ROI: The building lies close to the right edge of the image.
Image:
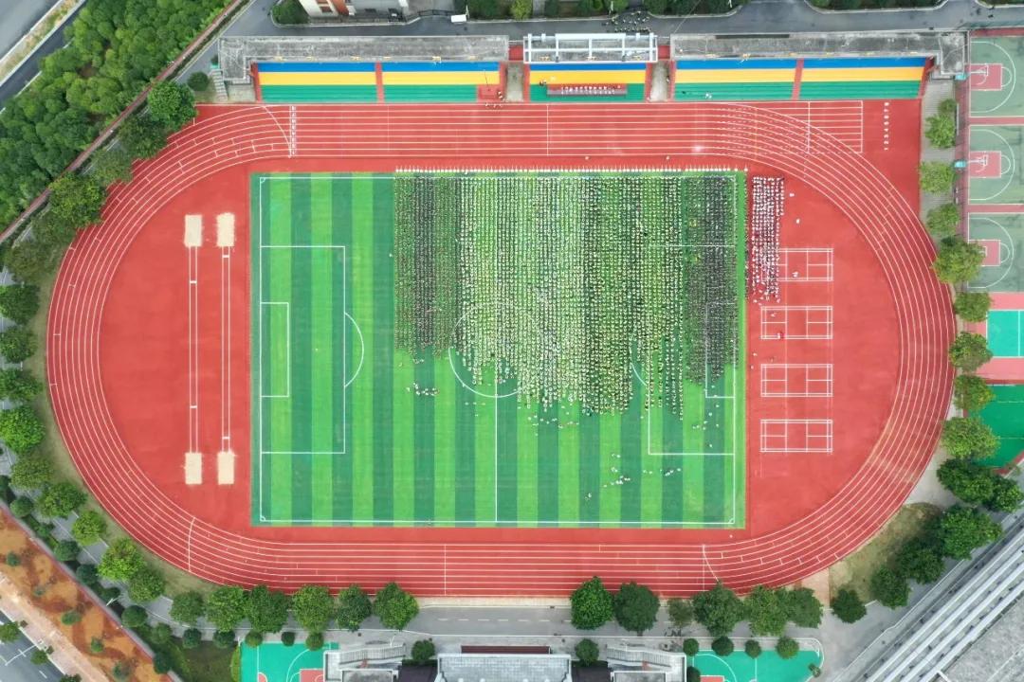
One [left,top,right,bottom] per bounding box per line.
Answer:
[832,507,1024,682]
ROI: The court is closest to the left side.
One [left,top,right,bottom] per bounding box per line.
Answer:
[240,643,339,682]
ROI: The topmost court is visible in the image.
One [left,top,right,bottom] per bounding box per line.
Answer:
[969,36,1024,116]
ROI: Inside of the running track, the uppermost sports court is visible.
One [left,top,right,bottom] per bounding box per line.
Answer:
[761,248,833,281]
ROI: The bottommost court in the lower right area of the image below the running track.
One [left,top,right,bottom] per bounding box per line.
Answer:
[689,651,822,682]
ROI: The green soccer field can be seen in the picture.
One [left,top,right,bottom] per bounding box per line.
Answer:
[249,171,747,530]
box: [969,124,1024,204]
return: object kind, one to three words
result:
basketball court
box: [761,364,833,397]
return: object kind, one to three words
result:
sports court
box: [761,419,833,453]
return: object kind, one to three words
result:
sports court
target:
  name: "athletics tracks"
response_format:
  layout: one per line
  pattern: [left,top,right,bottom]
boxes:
[47,99,955,599]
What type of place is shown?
sports ground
